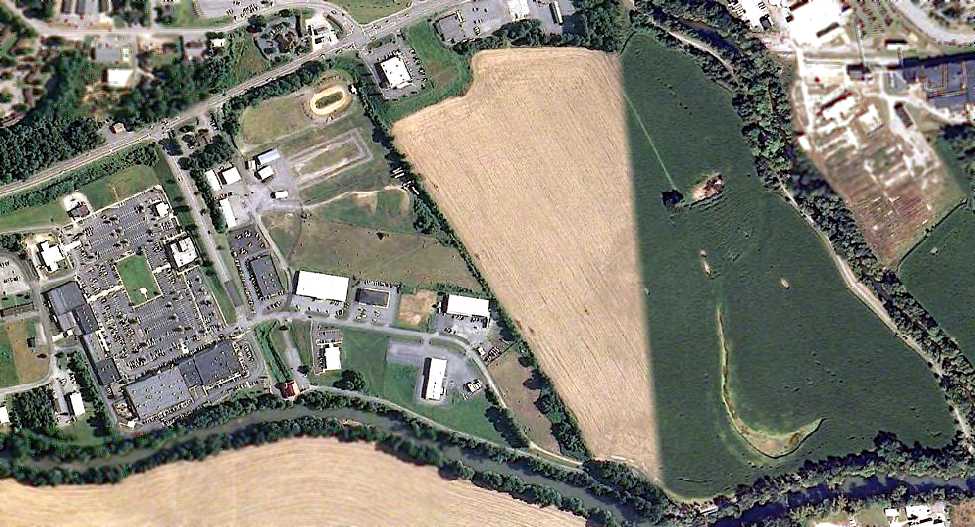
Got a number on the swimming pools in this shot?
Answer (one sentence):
The count of swimming pools is 0.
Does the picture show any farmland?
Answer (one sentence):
Yes, farmland shows up in the scene.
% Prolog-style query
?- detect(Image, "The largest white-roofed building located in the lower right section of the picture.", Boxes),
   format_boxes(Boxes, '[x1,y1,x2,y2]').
[906,504,931,520]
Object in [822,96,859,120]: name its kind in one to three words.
building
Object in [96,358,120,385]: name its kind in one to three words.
building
